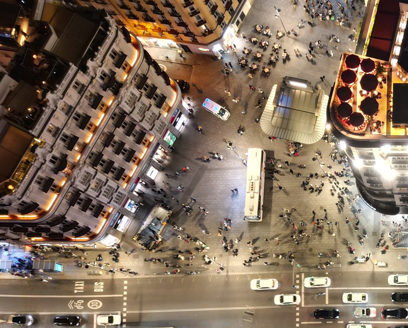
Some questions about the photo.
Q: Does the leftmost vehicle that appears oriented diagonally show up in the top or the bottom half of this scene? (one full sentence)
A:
The leftmost vehicle that appears oriented diagonally is in the top half of the image.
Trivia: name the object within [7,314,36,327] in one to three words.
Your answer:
vehicle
